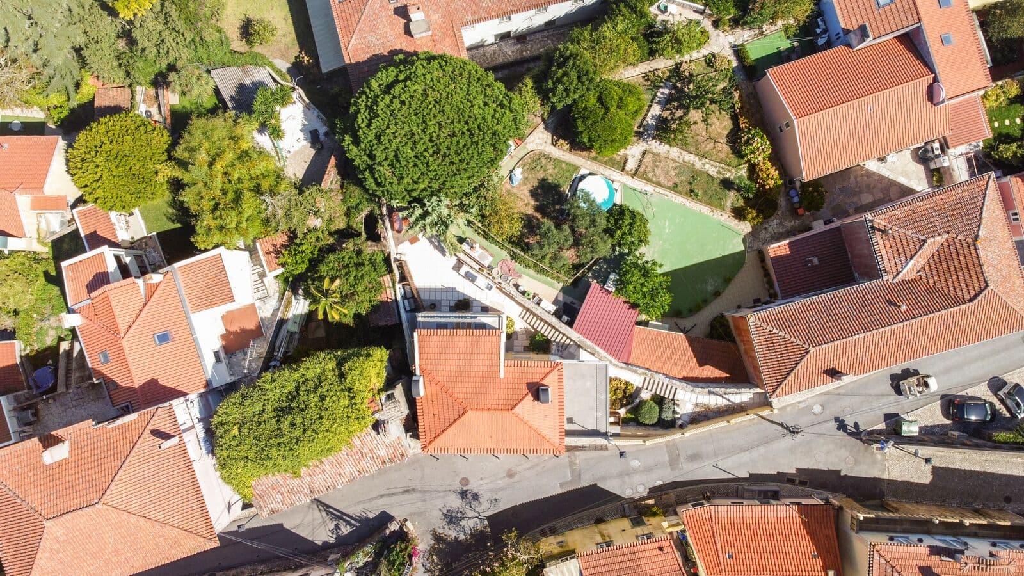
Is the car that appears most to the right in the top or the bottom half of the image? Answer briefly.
bottom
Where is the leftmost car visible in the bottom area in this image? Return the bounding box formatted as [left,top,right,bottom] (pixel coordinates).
[898,373,937,397]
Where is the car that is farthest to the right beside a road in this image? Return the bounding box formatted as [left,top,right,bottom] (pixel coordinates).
[996,375,1024,419]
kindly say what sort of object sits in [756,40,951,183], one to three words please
house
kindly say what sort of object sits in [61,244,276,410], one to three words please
house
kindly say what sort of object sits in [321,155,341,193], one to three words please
shed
